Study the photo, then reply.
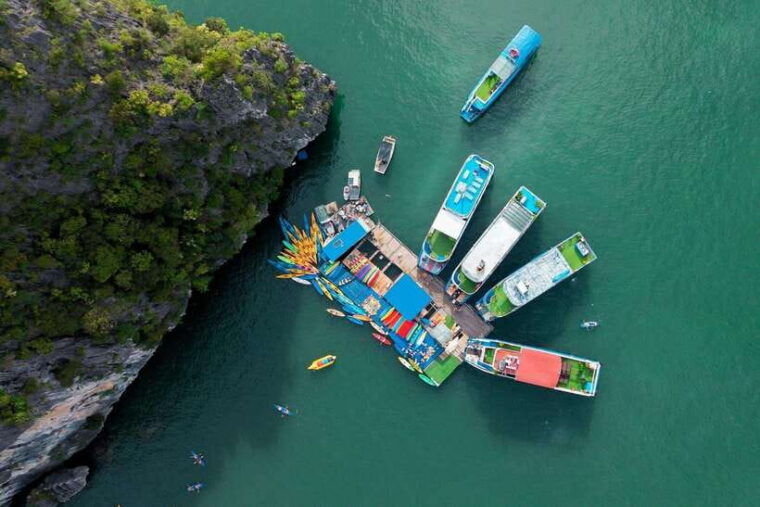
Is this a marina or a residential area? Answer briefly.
marina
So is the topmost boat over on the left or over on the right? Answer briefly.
right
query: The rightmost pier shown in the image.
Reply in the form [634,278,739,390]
[412,262,463,314]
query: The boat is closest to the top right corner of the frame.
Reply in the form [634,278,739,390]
[462,24,540,121]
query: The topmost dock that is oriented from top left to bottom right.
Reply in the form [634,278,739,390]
[367,223,421,280]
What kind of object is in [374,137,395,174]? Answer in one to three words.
boat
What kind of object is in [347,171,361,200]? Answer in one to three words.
boat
